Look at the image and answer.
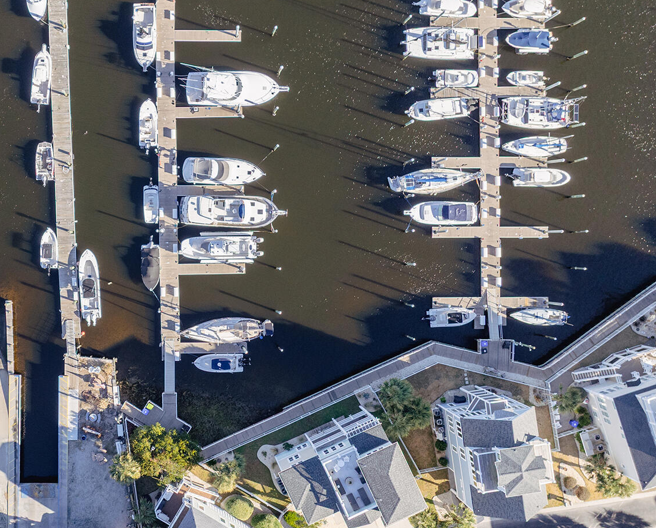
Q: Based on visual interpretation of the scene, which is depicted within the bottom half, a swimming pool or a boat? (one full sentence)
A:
You can see a boat within the bottom half.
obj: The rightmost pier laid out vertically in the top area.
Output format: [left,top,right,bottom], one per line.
[429,0,548,329]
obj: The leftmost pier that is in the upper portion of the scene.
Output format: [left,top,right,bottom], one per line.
[48,0,81,339]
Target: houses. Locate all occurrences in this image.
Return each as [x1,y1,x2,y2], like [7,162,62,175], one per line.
[273,405,427,528]
[154,478,252,528]
[444,377,560,522]
[568,344,656,491]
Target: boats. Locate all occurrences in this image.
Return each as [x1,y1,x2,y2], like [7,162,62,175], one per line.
[78,250,101,325]
[180,317,274,344]
[139,99,158,152]
[503,71,548,87]
[178,159,269,187]
[30,42,52,110]
[41,227,59,275]
[399,18,484,61]
[143,180,159,223]
[178,195,290,226]
[498,0,558,19]
[507,307,577,328]
[193,352,249,373]
[502,133,579,155]
[428,70,478,88]
[183,57,290,105]
[133,1,157,72]
[181,238,261,260]
[503,168,570,187]
[36,143,55,186]
[409,0,477,19]
[406,200,478,225]
[418,306,477,328]
[393,167,485,197]
[28,0,47,23]
[500,95,588,128]
[405,95,478,120]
